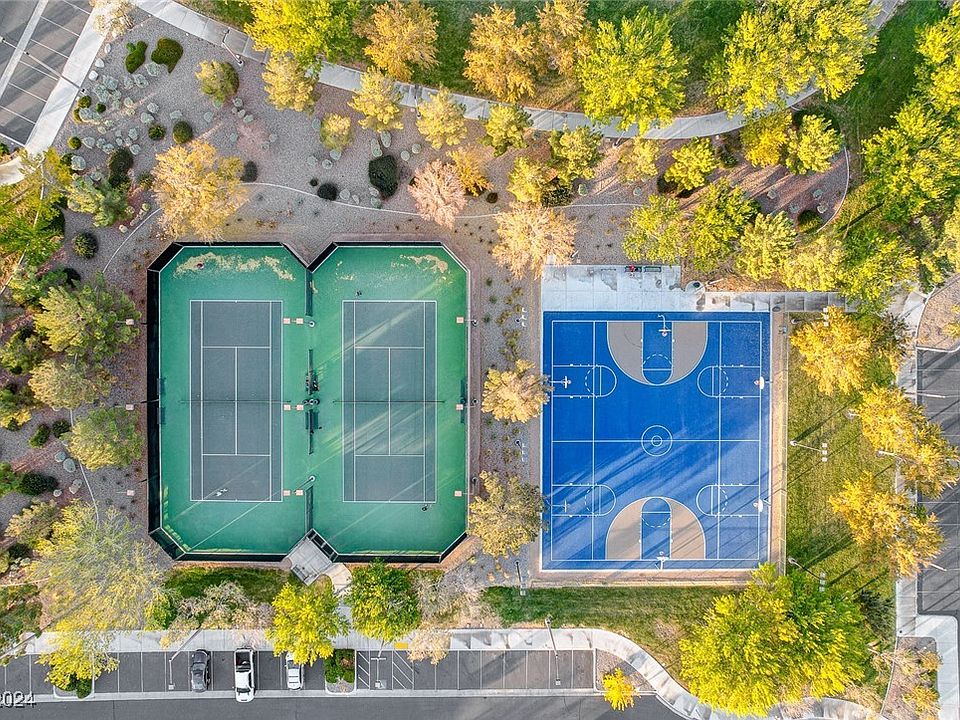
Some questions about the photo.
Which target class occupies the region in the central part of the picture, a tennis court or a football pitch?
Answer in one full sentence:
There is a tennis court in the central part of the picture.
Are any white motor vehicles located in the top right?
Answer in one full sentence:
No, in the top right there is no white motor vehicle.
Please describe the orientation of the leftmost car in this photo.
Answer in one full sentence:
Seen from above, the leftmost car lies vertically.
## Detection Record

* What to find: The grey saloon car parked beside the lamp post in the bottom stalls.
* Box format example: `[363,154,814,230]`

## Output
[190,650,211,691]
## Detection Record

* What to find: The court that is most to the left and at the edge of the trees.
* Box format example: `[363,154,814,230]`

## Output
[161,247,308,553]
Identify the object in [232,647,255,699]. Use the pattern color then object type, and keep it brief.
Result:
white truck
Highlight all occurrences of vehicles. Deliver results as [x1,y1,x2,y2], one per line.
[232,647,255,699]
[190,650,211,691]
[285,646,303,687]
